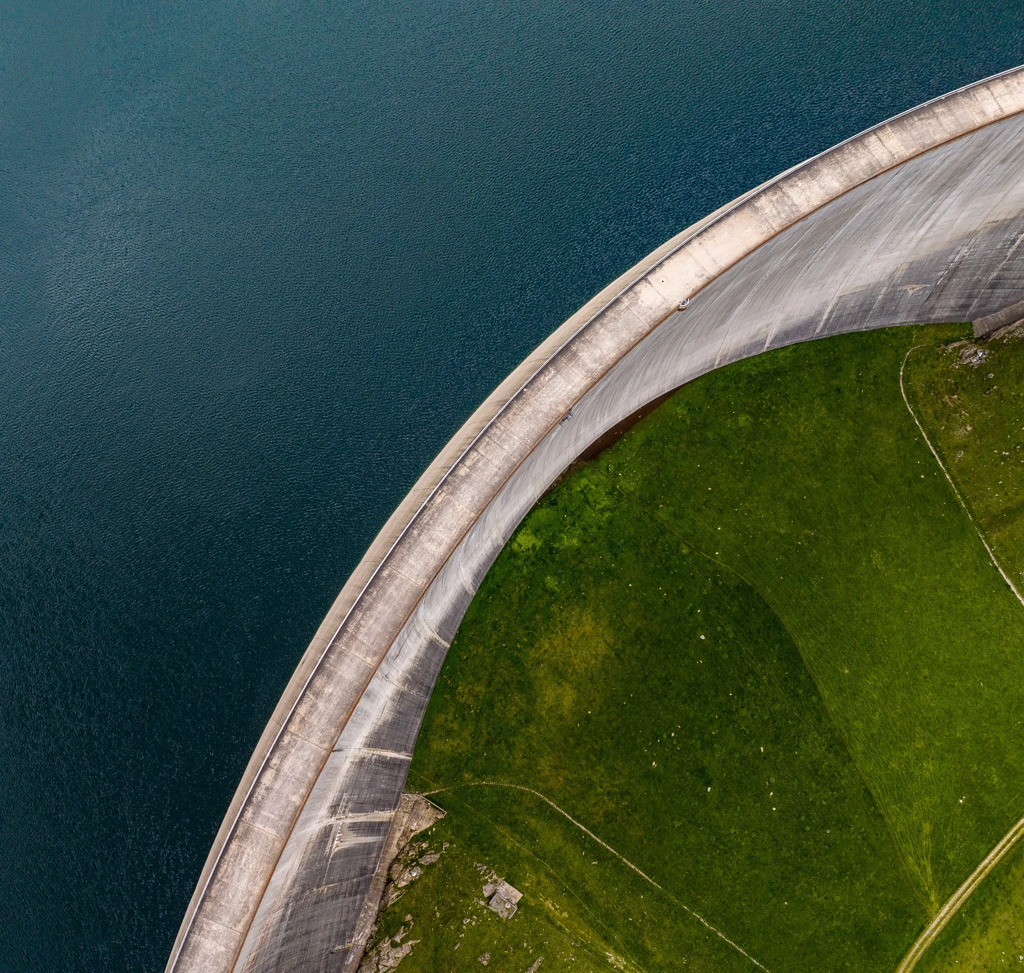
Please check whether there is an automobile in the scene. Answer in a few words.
No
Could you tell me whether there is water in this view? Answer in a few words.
Yes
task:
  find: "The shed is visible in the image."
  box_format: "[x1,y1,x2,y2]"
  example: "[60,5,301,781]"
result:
[488,881,523,919]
